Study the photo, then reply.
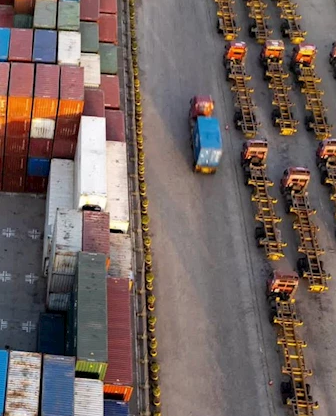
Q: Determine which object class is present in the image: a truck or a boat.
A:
truck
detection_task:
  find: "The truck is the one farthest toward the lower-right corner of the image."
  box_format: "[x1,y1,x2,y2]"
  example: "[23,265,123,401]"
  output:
[263,268,319,416]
